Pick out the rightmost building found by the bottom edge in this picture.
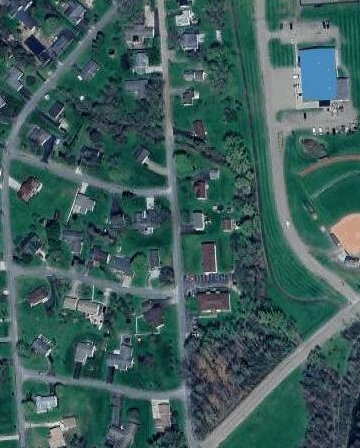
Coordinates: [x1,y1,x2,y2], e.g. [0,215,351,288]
[151,400,174,431]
